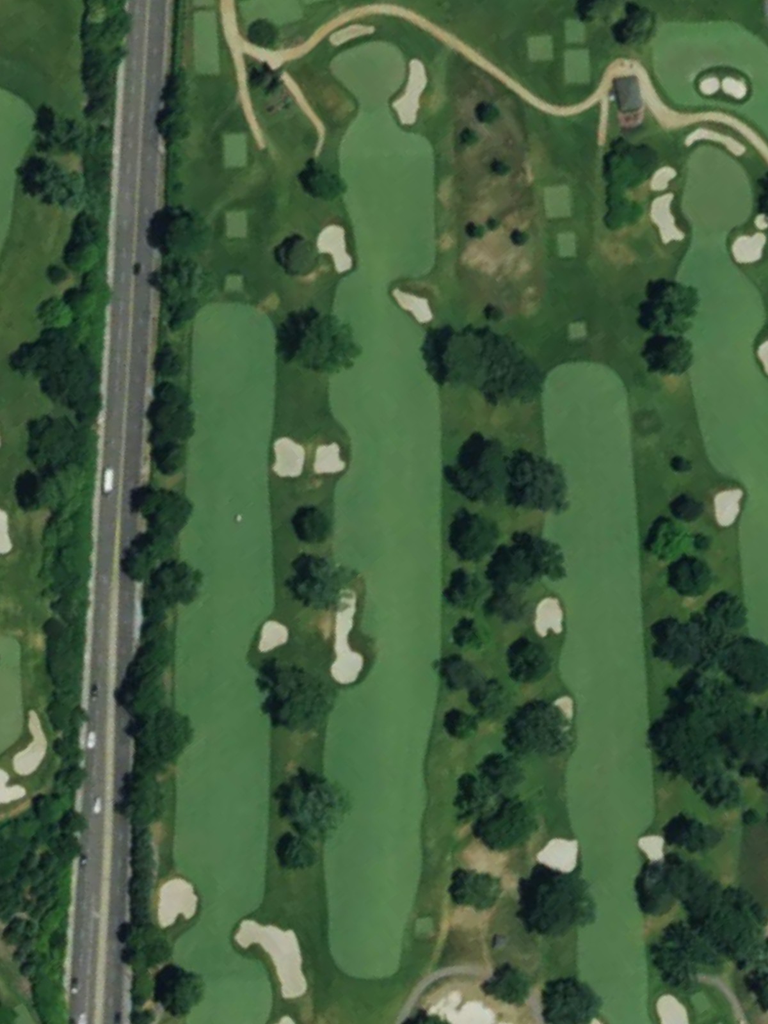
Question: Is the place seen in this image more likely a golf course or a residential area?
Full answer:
It's a golf course.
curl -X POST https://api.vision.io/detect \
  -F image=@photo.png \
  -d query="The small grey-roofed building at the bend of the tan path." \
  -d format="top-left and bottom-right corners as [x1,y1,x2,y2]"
[616,74,642,110]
